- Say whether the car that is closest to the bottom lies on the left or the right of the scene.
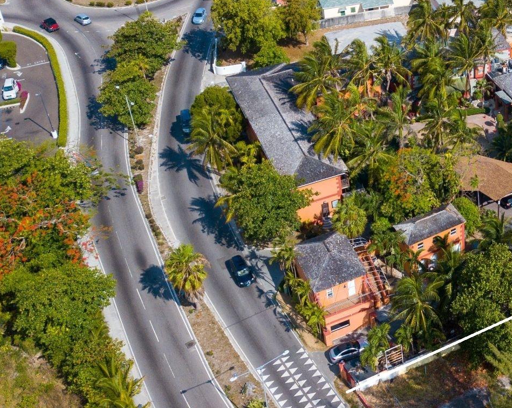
right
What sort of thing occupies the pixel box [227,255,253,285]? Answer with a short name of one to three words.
car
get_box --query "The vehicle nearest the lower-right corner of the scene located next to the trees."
[328,340,369,365]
